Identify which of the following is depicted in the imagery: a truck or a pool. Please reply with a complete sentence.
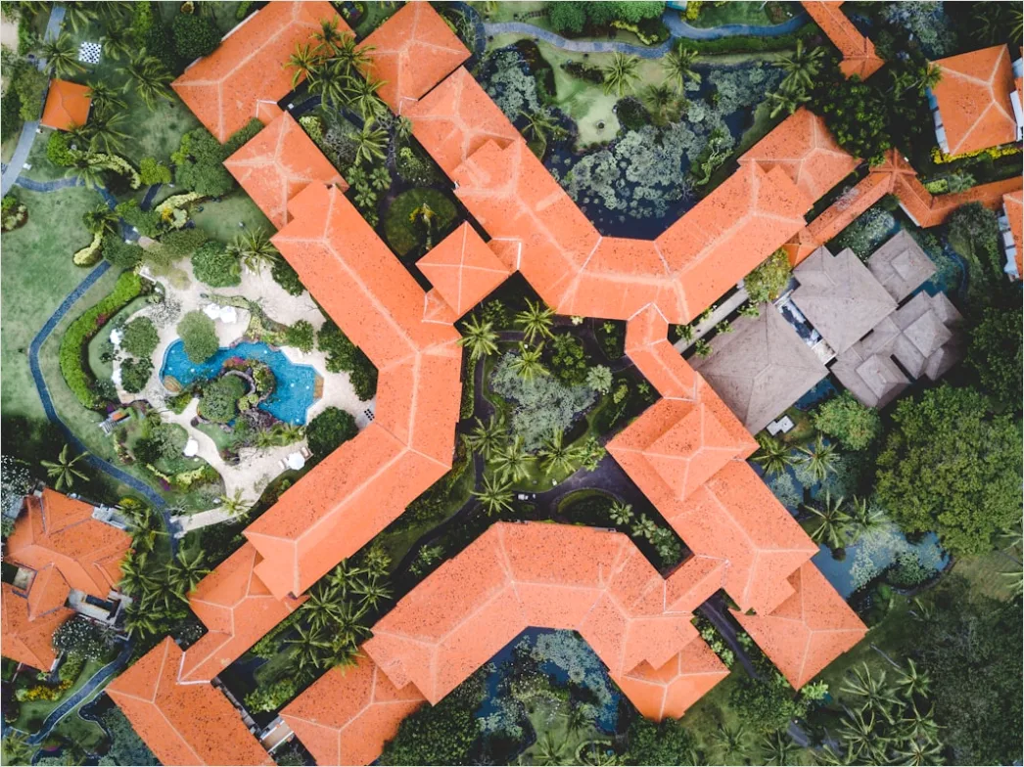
Of the two, only a pool appears.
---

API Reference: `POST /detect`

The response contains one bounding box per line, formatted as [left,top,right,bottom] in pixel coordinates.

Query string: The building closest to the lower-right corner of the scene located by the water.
[728,560,868,690]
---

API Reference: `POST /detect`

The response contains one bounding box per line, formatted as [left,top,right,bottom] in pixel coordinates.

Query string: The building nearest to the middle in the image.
[416,220,509,316]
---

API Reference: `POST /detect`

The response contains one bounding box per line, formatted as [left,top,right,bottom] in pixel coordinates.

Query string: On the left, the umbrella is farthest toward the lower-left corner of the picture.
[185,439,201,455]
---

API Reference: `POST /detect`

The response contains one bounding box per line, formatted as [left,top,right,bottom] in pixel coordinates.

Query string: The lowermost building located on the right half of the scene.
[622,640,729,722]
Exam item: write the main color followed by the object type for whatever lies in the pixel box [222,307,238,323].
white umbrella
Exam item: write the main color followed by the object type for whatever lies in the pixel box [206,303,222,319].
white umbrella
